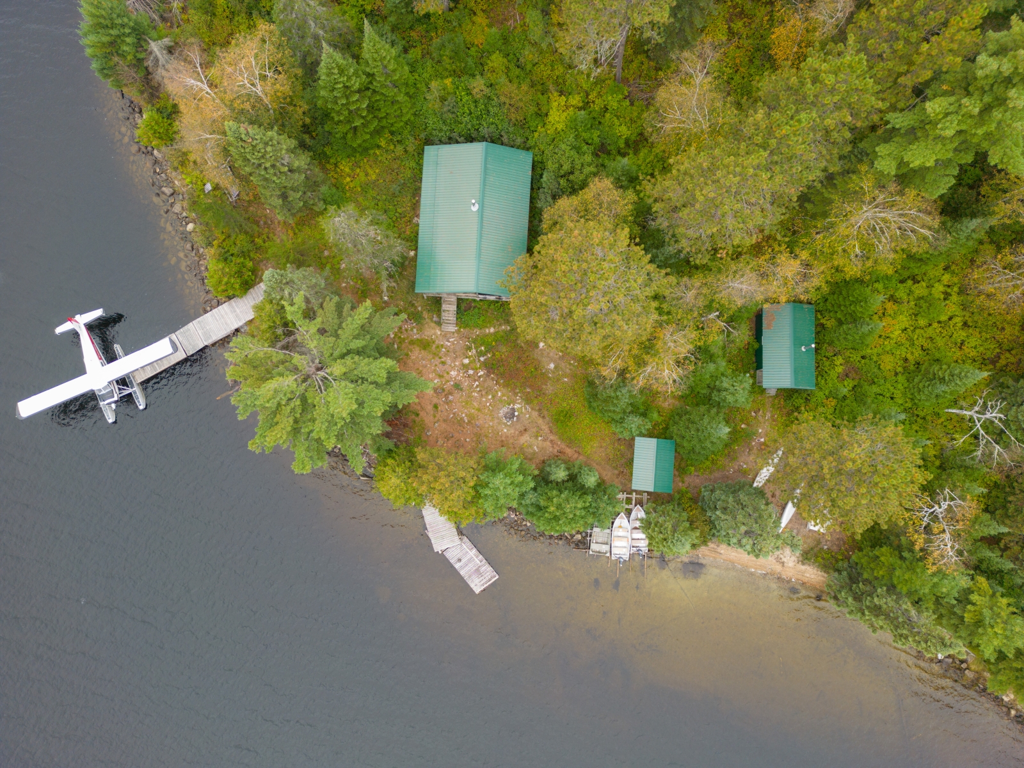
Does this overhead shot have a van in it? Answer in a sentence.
No, no van is visible in the scene.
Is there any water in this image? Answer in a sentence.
Yes, water shows up in the scene.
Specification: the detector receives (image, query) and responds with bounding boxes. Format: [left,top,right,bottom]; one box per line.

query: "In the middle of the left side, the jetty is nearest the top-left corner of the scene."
[132,294,260,384]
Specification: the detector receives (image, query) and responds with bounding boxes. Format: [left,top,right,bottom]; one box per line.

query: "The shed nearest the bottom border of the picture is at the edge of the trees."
[630,437,675,494]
